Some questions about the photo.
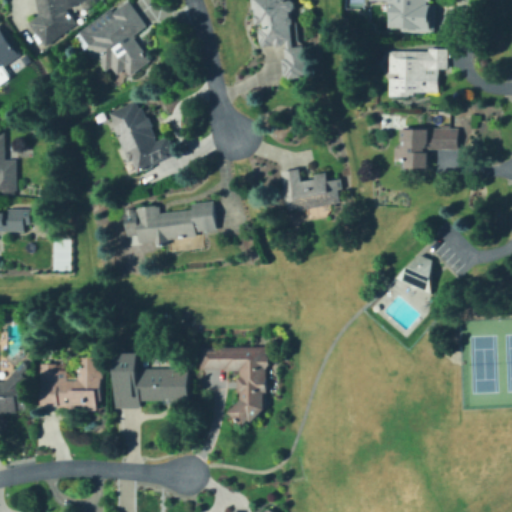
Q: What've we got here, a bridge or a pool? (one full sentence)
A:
This aerial view contains a pool.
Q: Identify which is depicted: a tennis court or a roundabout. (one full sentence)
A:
It is a tennis court that can be seen here.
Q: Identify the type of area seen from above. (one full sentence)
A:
This looks like a residential area.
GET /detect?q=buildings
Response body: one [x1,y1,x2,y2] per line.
[288,168,342,210]
[0,128,16,193]
[394,128,460,170]
[122,202,215,252]
[198,348,268,423]
[109,100,172,176]
[38,355,96,410]
[52,240,72,272]
[0,208,30,235]
[30,0,86,46]
[0,360,26,414]
[0,26,22,71]
[400,253,434,292]
[110,354,188,408]
[78,0,148,76]
[250,0,305,77]
[388,48,448,97]
[388,0,429,31]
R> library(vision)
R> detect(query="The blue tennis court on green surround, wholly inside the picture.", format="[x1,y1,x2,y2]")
[462,319,502,409]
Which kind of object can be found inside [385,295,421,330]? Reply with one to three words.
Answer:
swimming pool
